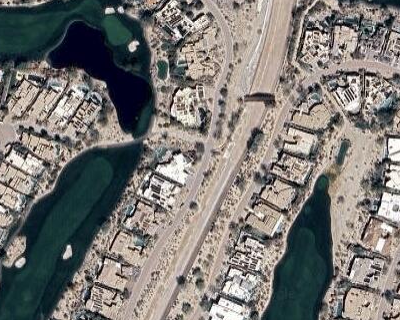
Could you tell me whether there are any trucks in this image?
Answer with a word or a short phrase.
No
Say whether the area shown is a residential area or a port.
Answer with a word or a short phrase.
residential area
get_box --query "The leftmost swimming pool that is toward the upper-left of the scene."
[22,69,49,85]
